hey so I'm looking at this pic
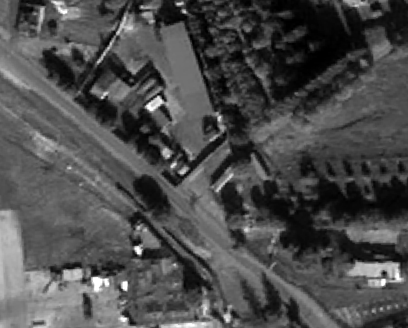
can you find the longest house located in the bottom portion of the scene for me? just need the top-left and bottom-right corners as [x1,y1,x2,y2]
[348,262,401,279]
